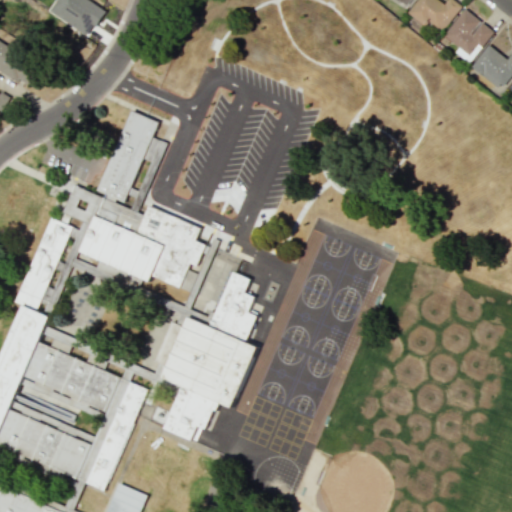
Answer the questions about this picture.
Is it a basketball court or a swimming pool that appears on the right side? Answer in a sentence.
There is a basketball court on the right side.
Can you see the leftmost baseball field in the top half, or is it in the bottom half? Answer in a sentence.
Seen from above, the leftmost baseball field lies in the bottom half of the view.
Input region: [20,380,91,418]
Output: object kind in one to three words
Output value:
building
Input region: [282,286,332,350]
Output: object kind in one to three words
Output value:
basketball court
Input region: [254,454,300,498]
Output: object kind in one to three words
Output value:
sports court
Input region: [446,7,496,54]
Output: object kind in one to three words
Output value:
house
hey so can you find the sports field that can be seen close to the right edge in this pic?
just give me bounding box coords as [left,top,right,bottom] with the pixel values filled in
[317,259,512,512]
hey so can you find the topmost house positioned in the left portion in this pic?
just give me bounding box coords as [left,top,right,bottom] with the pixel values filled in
[49,0,106,36]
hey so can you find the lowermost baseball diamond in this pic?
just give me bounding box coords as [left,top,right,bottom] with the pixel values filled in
[318,451,394,512]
